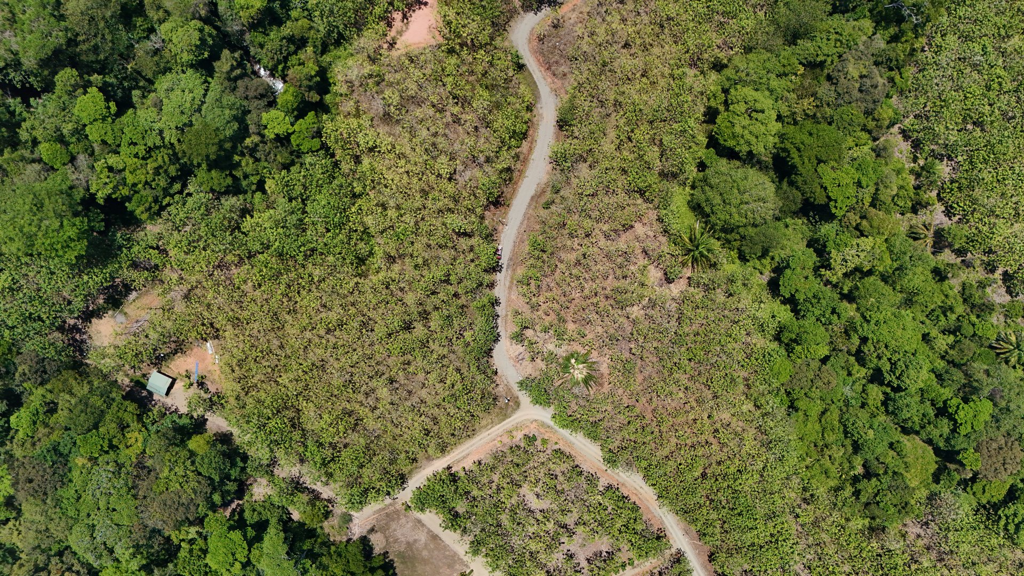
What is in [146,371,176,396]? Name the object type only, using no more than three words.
shed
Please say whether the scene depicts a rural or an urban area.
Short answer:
rural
